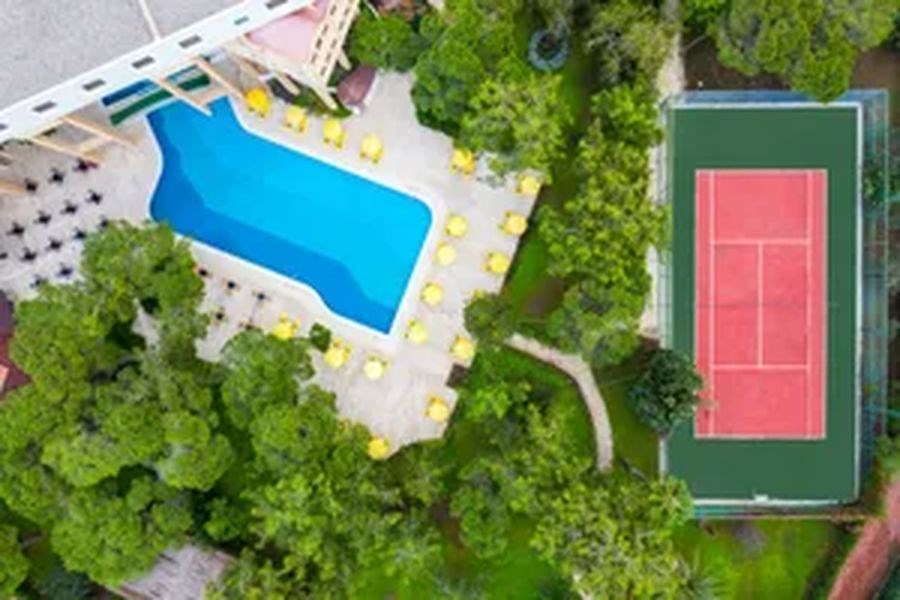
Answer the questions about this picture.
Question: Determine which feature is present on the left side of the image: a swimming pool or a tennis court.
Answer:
swimming pool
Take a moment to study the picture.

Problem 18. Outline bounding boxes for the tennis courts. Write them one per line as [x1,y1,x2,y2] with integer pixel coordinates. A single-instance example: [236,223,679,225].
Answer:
[657,99,863,503]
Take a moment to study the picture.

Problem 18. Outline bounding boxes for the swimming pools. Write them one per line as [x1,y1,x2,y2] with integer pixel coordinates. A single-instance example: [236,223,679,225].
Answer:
[144,96,436,334]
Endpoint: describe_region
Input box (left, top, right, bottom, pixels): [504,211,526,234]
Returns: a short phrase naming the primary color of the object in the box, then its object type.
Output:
yellow umbrella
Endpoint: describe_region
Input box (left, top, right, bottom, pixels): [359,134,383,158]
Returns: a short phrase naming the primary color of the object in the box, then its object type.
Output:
yellow umbrella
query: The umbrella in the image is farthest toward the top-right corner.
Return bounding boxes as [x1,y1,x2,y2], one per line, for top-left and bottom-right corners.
[518,173,541,196]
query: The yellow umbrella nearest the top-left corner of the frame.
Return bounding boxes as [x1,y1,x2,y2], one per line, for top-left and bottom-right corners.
[247,90,270,112]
